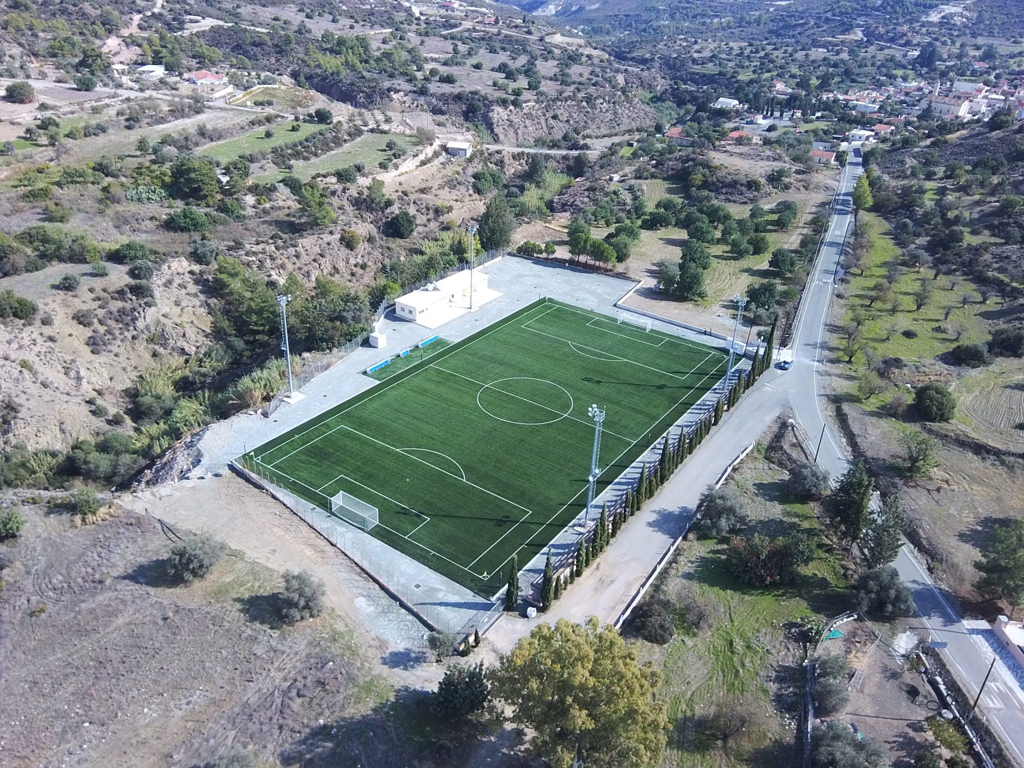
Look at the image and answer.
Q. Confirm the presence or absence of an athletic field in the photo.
Yes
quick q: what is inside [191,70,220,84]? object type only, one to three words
house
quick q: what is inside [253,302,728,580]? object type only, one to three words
sports field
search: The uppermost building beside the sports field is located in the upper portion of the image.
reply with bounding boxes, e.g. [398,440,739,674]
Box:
[391,269,506,329]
